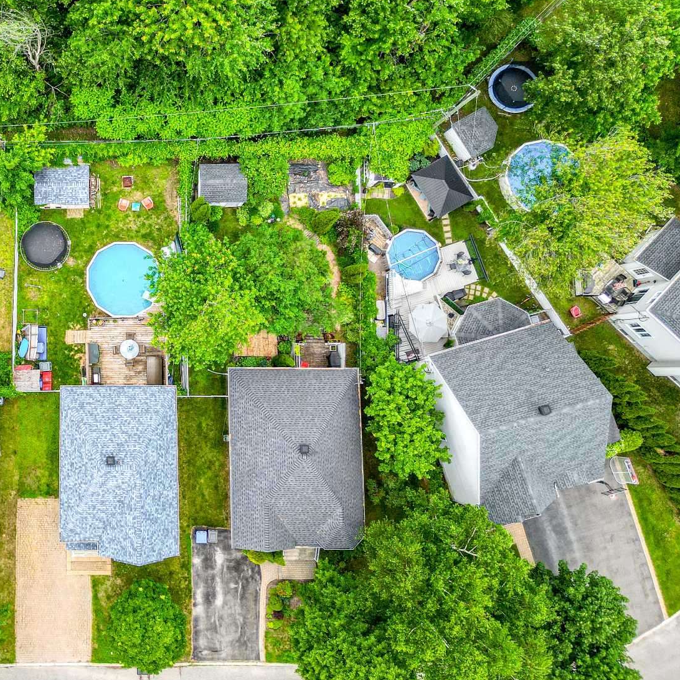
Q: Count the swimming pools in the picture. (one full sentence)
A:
Looking from above, you can make out 3 swimming pools.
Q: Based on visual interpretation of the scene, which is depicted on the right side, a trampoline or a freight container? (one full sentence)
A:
It is a trampoline that can be seen on the right side.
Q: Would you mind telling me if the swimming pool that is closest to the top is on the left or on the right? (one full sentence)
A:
The swimming pool that is closest to the top appears in the right half of the scene.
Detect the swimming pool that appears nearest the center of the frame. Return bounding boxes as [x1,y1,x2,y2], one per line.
[382,228,440,283]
